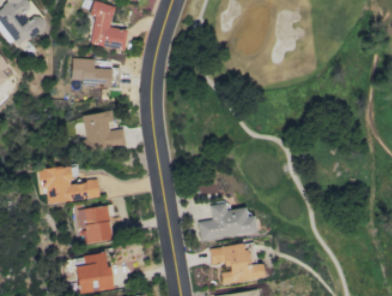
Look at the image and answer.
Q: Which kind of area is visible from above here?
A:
golf course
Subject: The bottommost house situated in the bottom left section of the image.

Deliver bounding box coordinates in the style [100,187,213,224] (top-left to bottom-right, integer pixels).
[76,253,114,292]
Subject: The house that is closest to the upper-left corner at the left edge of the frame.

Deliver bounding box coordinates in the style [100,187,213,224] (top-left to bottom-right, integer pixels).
[0,0,46,46]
